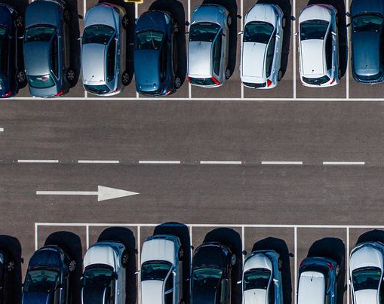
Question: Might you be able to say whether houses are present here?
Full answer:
No, there isn't any house down there.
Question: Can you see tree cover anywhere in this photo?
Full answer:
No, the scene doesn't show any tree cover.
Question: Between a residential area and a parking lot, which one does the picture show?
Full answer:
What you see here is a parking lot.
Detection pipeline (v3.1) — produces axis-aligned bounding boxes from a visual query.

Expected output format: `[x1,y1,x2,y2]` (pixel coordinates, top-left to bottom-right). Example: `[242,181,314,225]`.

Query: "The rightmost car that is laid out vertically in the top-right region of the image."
[344,0,384,84]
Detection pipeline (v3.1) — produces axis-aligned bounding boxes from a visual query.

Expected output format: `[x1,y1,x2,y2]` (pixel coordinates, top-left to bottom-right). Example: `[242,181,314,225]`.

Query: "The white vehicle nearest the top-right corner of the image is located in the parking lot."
[292,4,342,87]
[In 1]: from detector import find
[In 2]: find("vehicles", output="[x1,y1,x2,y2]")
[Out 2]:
[130,11,180,95]
[75,240,130,304]
[0,4,25,98]
[133,233,186,304]
[236,4,286,90]
[185,240,236,304]
[237,249,285,304]
[74,4,128,95]
[344,0,384,84]
[180,5,232,87]
[19,0,75,98]
[298,257,339,304]
[345,240,384,304]
[292,4,342,87]
[19,244,74,304]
